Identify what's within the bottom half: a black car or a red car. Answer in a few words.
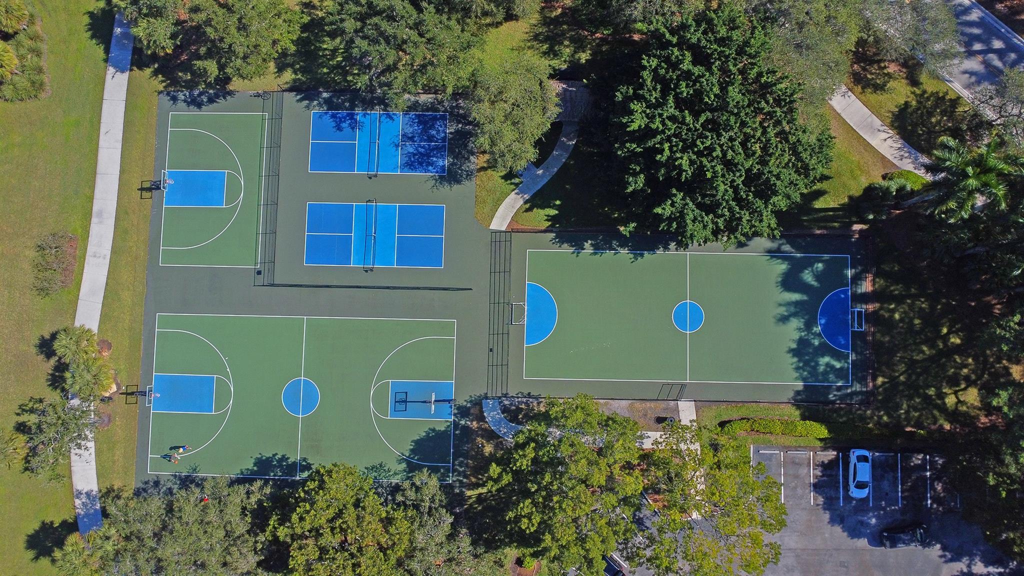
black car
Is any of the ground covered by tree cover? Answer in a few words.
Yes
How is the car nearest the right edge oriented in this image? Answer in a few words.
from side to side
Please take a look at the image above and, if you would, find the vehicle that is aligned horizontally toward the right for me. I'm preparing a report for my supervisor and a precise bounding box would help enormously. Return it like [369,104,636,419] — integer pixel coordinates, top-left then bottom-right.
[875,523,930,549]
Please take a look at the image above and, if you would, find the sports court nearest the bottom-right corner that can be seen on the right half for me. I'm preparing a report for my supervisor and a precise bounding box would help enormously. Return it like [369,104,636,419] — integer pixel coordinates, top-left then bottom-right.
[525,249,852,385]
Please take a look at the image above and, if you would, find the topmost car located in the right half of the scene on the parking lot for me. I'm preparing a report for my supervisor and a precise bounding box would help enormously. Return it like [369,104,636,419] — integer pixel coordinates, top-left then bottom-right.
[846,448,873,499]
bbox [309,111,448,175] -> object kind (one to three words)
sports court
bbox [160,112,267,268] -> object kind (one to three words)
basketball court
